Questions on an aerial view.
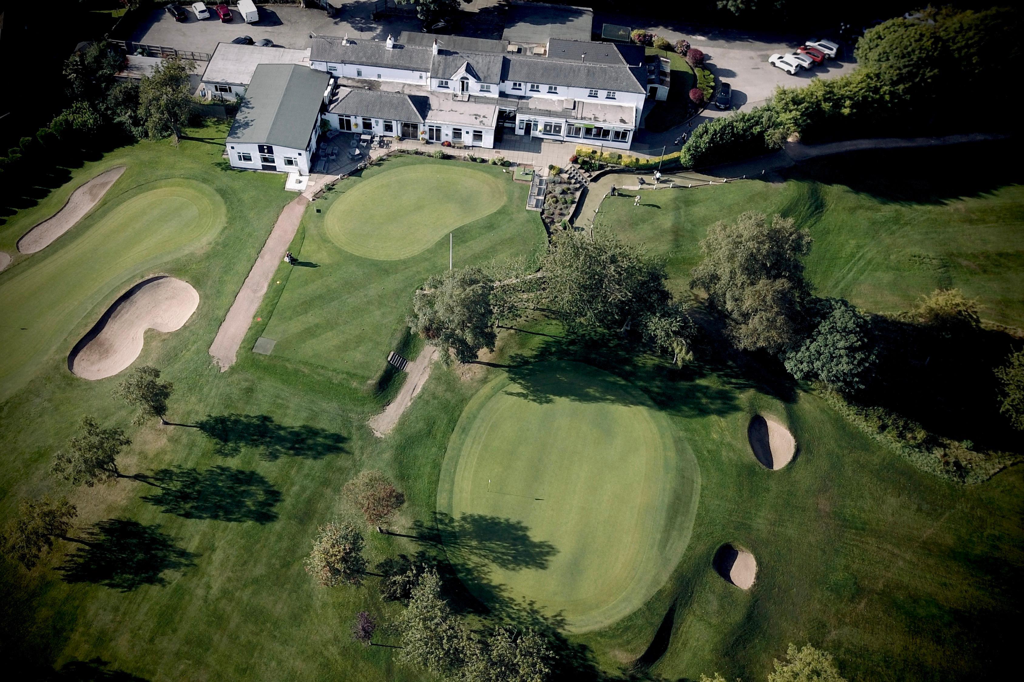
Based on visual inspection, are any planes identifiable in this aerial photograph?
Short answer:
No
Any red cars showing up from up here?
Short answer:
Yes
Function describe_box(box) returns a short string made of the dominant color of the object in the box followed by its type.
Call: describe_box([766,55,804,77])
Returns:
white car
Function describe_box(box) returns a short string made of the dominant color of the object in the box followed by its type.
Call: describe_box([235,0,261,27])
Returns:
white vehicle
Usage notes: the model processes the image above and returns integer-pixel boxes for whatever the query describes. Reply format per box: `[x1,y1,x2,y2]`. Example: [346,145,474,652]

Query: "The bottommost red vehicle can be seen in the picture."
[793,46,828,66]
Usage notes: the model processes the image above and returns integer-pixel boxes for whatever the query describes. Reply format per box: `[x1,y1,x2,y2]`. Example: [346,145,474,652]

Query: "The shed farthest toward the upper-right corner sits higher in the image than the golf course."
[646,41,671,98]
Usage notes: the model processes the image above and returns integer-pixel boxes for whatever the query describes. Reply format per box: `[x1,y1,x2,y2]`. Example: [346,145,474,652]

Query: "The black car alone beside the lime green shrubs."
[714,80,733,109]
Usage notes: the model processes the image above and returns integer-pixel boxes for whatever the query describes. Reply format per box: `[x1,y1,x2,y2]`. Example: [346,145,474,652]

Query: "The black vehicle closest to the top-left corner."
[164,3,190,25]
